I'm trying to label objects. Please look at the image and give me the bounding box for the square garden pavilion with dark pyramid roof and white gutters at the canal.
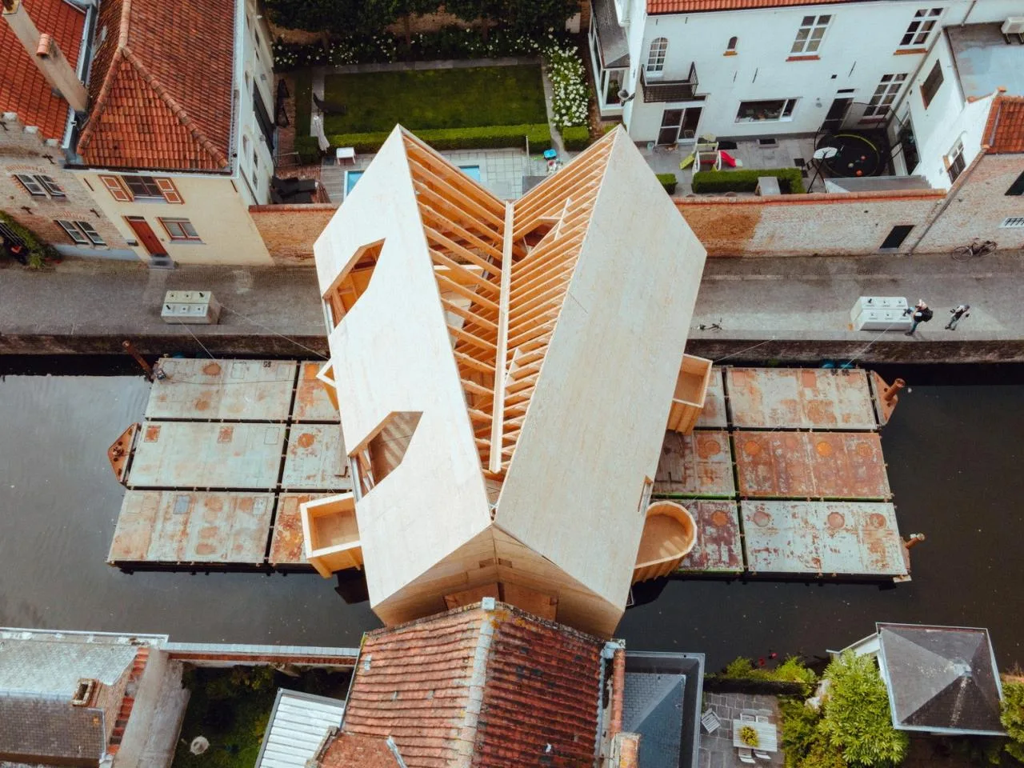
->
[853,624,1007,736]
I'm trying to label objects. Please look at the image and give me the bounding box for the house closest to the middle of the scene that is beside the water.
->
[298,125,714,640]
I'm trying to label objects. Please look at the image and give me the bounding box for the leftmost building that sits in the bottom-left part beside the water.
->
[0,630,188,768]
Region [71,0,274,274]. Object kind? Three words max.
house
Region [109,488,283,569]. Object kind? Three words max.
pier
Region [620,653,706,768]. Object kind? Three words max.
building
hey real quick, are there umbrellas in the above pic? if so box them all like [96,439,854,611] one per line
[310,110,328,153]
